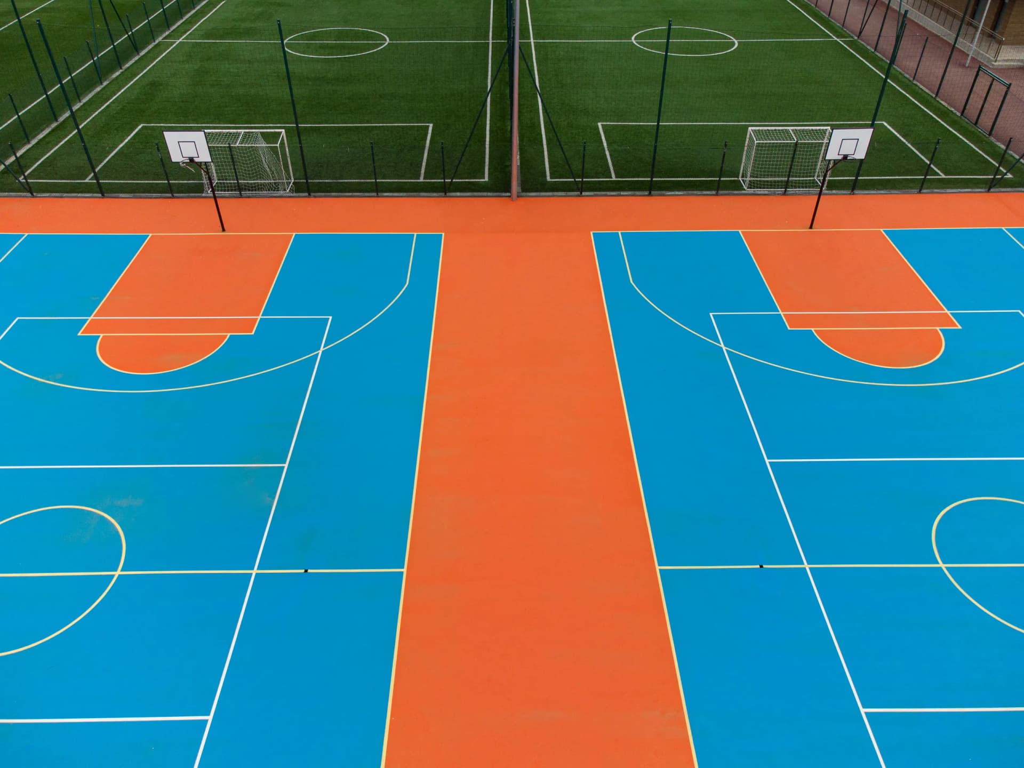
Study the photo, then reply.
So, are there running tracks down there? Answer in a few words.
No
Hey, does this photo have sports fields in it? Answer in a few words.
Yes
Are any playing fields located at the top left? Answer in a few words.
Yes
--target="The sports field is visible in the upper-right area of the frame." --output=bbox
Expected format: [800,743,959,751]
[516,0,1024,193]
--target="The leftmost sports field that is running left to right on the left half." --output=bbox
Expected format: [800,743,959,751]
[0,0,510,193]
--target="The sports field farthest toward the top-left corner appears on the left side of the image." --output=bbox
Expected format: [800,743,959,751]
[0,0,200,164]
